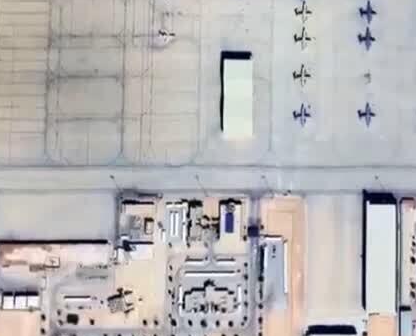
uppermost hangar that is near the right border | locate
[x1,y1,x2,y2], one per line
[367,202,397,314]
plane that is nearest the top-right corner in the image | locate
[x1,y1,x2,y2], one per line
[361,3,377,26]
